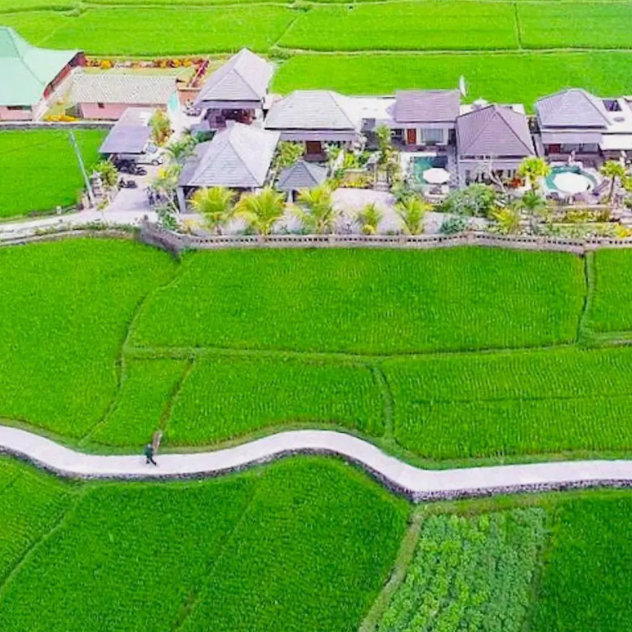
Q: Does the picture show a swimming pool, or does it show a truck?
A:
swimming pool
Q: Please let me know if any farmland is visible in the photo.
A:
Yes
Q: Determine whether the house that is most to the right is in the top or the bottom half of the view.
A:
top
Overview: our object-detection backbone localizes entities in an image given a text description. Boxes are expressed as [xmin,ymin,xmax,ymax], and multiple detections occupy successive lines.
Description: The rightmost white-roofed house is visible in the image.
[535,90,632,171]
